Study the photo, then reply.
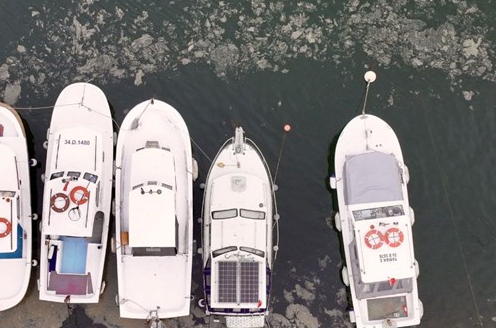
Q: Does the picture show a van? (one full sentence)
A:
No, I can see no van in this picture.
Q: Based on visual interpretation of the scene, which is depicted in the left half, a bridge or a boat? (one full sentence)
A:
The one visible in the left half is a boat.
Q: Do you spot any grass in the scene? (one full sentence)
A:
No, there is no grass in the image.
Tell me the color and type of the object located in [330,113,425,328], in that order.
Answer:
white boat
